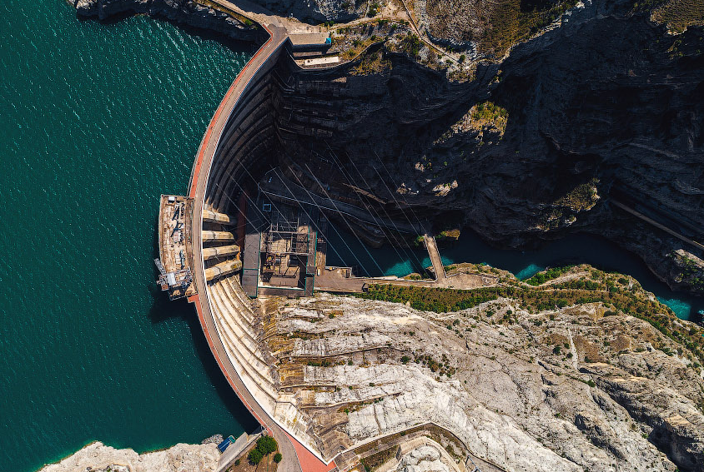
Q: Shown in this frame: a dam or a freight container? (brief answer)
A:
dam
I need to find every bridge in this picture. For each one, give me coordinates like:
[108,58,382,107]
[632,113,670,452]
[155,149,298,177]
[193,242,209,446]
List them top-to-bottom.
[425,232,447,288]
